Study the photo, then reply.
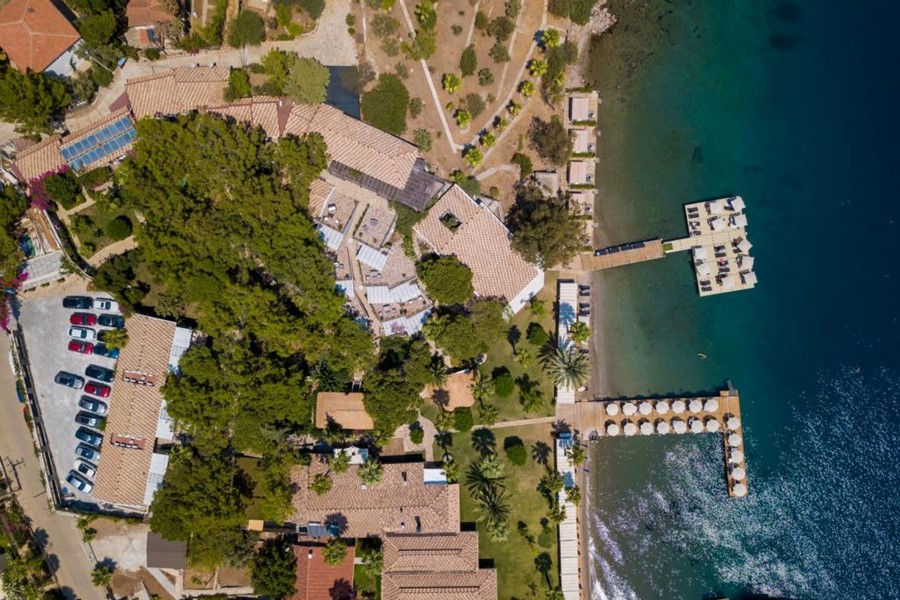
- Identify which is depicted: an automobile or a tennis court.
automobile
